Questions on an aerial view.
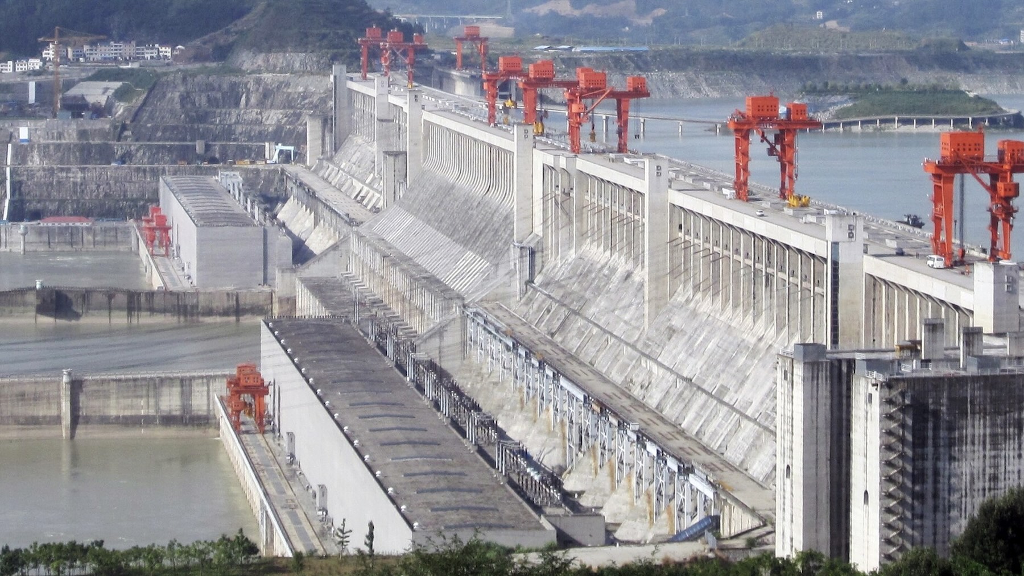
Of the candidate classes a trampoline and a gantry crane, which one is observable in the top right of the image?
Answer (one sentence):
It is a gantry crane that can be seen in the top right of the image.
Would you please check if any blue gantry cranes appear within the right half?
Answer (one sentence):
No, the scene shows no blue gantry crane within the right half.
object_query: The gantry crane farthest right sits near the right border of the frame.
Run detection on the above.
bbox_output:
[919,129,1024,265]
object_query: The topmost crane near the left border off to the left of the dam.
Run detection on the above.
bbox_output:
[38,27,106,114]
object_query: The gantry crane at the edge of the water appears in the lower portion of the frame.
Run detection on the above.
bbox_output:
[234,361,277,432]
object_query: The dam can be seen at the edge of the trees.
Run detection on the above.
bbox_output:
[278,73,1024,575]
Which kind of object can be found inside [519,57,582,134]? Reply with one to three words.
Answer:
container crane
